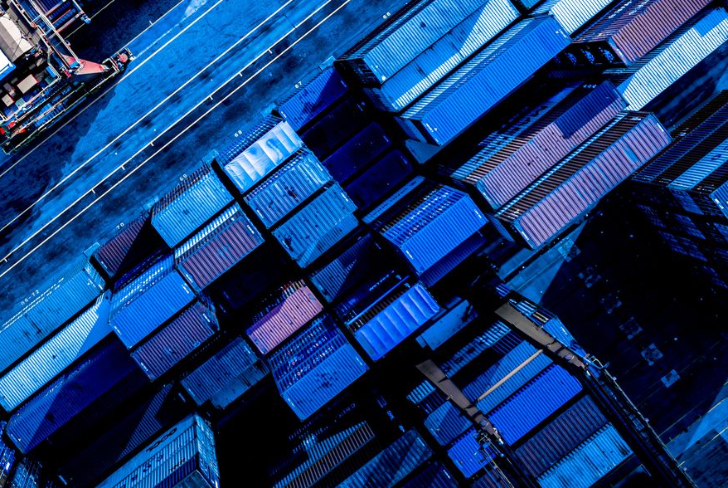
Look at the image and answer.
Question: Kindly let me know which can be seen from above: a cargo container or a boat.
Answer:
cargo container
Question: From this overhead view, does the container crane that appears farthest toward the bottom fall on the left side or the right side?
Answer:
right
